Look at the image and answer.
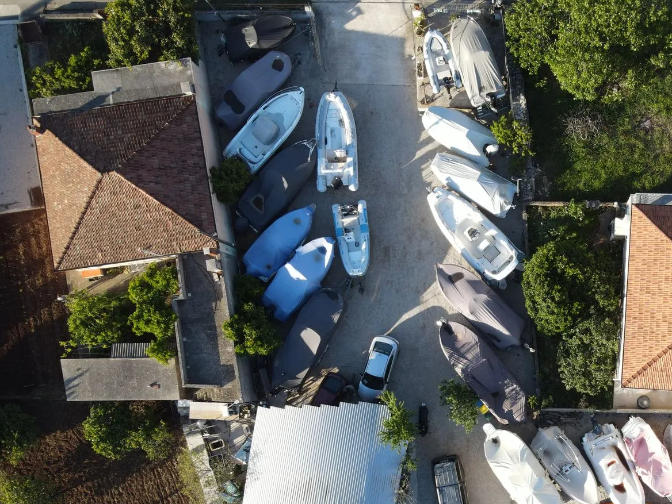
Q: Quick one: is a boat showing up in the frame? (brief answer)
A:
Yes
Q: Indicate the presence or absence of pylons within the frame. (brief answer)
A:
No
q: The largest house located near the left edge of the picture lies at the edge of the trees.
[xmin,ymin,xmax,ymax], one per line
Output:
[19,91,236,273]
